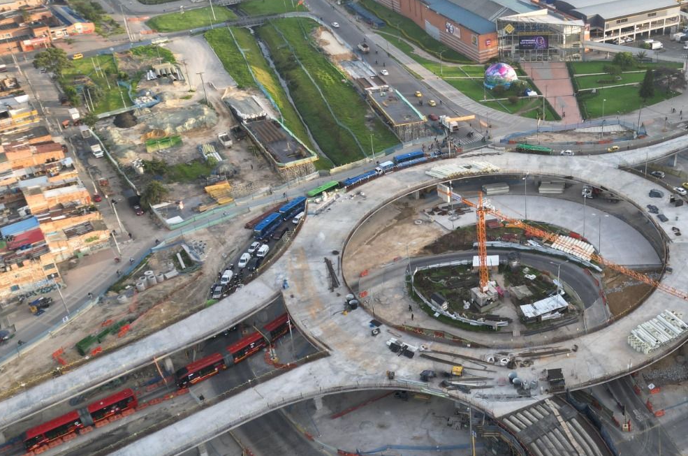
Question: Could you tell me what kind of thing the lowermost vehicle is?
bus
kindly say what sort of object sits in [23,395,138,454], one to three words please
bus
